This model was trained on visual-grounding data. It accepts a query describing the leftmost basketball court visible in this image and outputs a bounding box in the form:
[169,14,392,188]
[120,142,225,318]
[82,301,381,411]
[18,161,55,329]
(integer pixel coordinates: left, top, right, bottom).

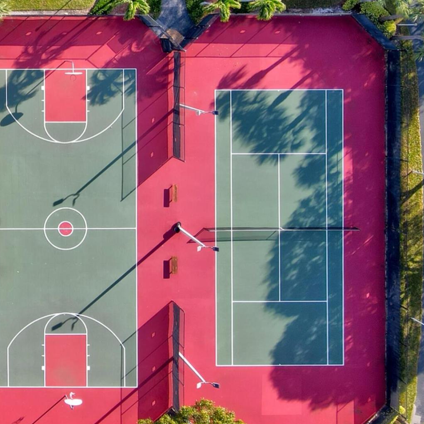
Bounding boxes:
[0,69,137,388]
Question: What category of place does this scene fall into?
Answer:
sports ground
